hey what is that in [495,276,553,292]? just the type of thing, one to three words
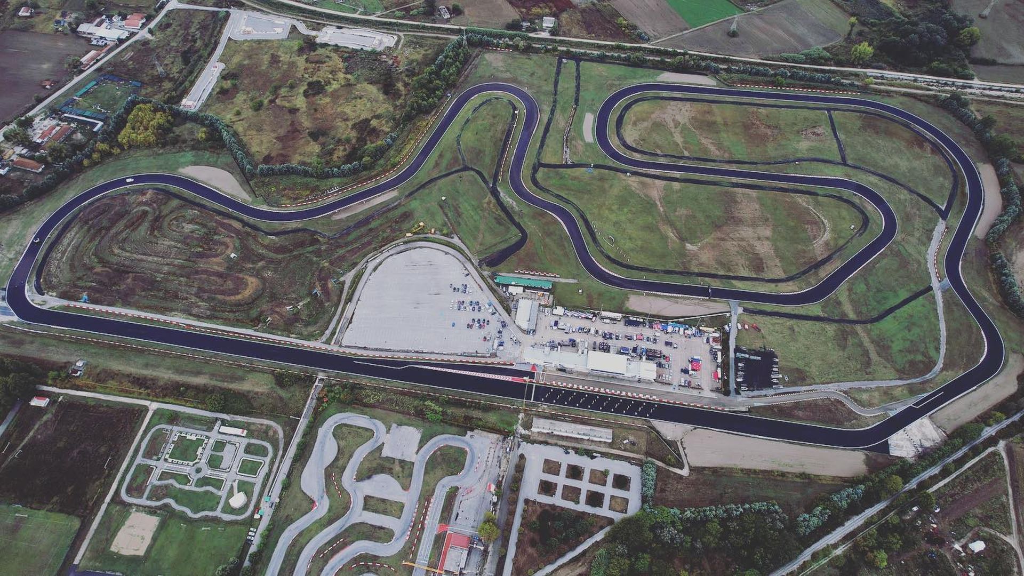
shed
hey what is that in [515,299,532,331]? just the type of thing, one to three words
building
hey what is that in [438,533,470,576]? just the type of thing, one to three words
building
